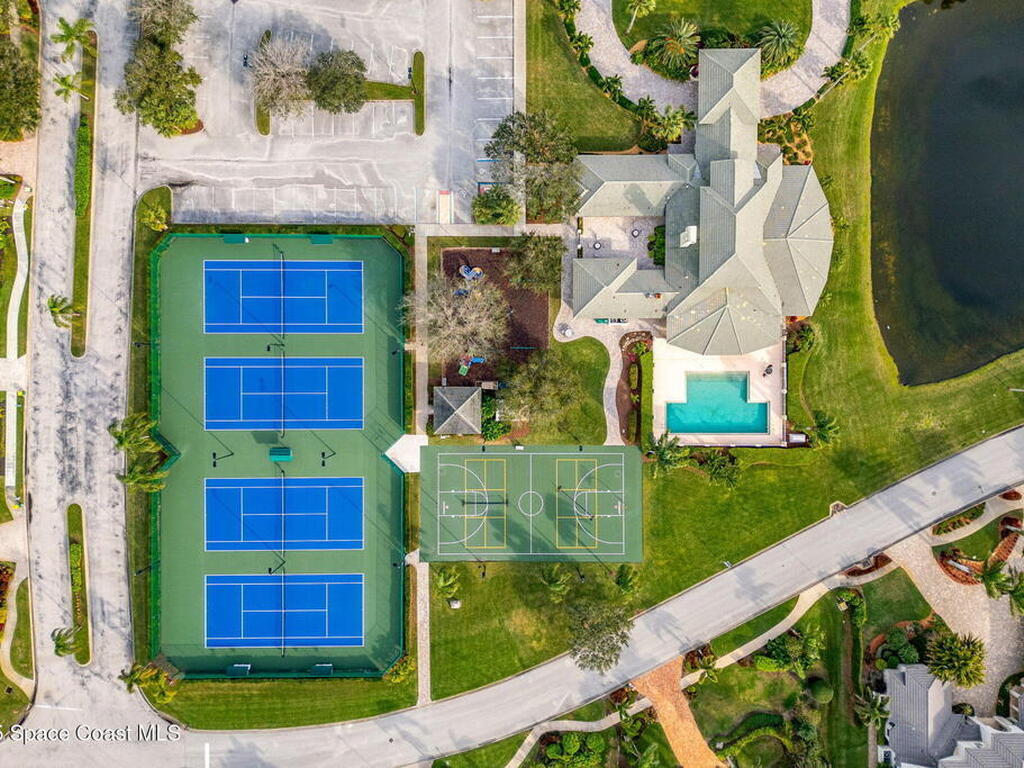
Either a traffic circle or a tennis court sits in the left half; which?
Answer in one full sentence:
It is a tennis court that can be seen in the left half.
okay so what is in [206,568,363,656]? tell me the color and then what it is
blue tennis court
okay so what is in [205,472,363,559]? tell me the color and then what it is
blue tennis court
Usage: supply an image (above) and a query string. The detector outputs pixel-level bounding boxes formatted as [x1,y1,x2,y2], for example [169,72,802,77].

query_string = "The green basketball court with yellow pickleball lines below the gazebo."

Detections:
[420,446,643,561]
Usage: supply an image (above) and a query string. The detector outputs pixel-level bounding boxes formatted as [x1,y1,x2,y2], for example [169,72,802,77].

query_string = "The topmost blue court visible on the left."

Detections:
[204,254,363,339]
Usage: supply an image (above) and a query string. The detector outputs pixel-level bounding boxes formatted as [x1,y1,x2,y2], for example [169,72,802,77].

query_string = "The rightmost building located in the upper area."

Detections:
[573,49,834,355]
